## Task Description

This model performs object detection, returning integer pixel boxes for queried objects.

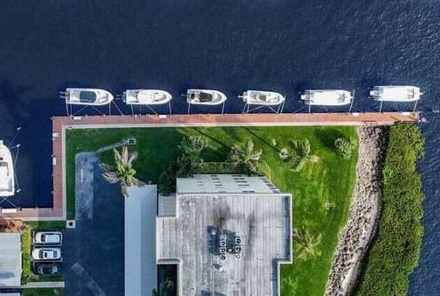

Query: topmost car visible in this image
[34,232,62,246]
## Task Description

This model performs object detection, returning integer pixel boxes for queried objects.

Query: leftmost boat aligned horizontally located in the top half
[57,88,114,106]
